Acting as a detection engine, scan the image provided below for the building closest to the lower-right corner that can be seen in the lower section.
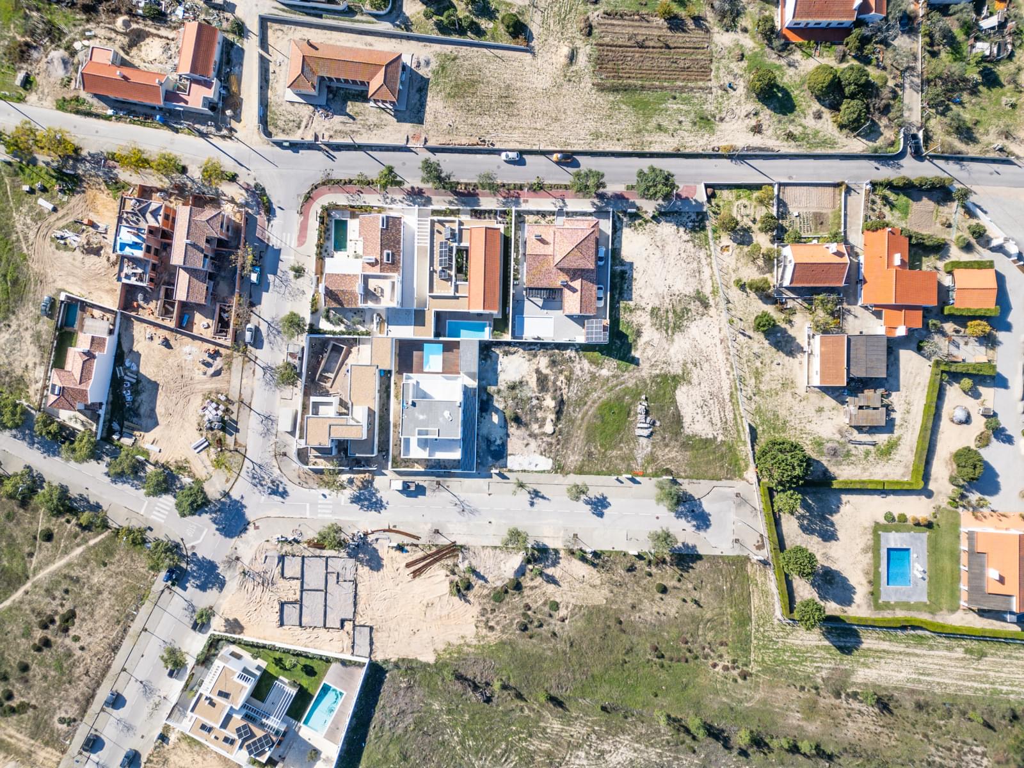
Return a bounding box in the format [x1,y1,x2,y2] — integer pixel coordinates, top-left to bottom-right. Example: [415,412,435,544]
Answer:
[953,526,1024,621]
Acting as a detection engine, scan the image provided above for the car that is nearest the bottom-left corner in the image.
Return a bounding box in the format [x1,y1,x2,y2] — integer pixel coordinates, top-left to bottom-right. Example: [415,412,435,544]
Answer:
[81,733,96,753]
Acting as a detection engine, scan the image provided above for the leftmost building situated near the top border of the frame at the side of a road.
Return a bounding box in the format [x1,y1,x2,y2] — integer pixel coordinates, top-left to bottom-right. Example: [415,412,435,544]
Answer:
[84,21,225,116]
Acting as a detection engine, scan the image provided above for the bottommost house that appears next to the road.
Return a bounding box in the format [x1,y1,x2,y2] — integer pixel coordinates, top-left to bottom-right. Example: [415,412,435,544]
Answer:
[174,642,300,763]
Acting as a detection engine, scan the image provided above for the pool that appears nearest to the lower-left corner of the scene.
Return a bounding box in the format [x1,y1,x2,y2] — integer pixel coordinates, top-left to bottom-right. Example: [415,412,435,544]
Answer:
[299,680,349,739]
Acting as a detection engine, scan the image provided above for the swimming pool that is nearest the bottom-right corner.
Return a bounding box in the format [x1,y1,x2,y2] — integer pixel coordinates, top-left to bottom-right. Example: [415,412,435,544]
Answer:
[886,547,911,588]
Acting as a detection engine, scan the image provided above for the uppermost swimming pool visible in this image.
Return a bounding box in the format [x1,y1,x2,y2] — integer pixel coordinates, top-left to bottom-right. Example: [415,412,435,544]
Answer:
[331,218,350,254]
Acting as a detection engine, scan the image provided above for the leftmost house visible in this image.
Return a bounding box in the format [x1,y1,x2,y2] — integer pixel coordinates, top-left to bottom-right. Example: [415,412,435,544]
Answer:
[47,317,128,411]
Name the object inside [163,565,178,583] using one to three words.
car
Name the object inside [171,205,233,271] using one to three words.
house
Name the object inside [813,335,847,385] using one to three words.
shed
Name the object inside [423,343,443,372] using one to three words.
swimming pool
